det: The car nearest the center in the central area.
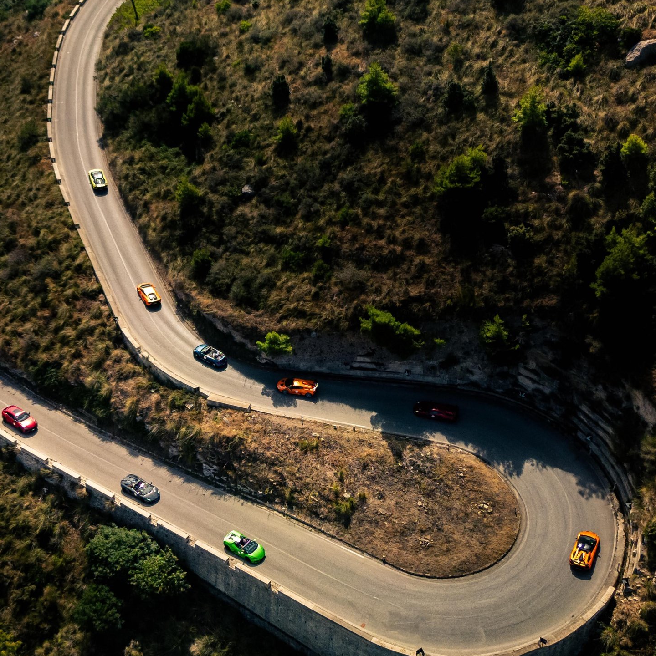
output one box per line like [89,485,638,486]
[277,378,320,397]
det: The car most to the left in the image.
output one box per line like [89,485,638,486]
[0,407,39,434]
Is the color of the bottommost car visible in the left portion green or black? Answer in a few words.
green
